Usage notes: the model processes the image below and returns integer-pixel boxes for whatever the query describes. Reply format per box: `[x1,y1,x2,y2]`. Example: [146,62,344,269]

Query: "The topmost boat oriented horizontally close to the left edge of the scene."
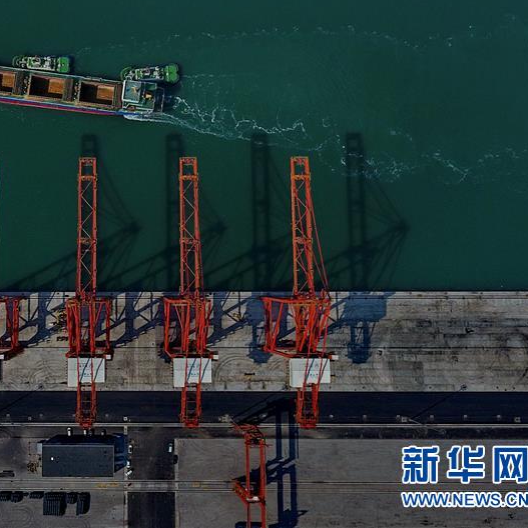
[12,54,71,74]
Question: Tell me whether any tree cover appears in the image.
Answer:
No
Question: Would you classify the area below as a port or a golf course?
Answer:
port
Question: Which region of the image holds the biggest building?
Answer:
bottom left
